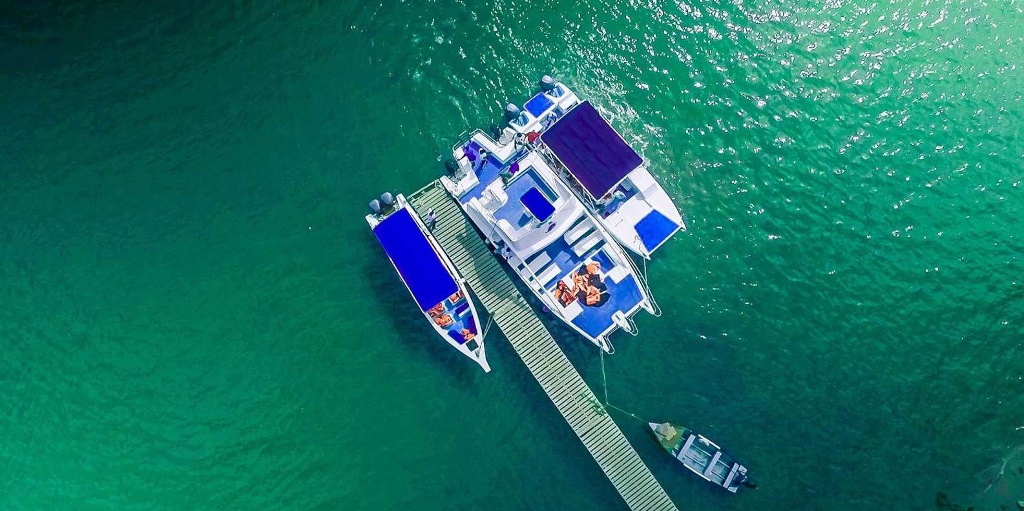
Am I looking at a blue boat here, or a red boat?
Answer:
blue boat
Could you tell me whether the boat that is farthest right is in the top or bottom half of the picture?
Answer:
bottom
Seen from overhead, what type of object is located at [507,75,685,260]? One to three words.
boat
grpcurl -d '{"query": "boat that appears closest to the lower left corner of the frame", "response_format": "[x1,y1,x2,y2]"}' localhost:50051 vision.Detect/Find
[367,193,490,373]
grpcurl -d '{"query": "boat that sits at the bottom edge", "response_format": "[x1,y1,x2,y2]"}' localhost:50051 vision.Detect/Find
[649,422,752,492]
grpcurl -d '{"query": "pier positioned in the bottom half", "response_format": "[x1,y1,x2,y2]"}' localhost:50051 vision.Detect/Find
[406,178,678,511]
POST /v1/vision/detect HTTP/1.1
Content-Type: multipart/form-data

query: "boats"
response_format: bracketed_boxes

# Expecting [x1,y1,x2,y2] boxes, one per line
[441,126,662,357]
[507,75,685,260]
[649,422,752,492]
[367,193,490,373]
